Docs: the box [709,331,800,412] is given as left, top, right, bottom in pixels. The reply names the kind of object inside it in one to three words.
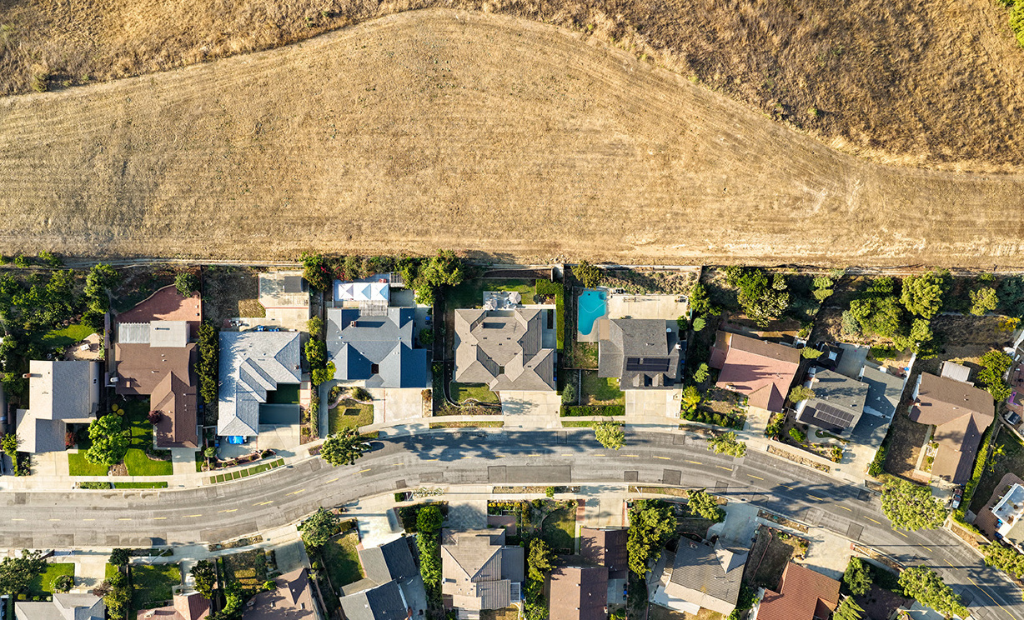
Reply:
house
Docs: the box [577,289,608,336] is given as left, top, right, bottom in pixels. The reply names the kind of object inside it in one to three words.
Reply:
swimming pool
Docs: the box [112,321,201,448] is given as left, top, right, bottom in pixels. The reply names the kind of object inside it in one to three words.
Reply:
house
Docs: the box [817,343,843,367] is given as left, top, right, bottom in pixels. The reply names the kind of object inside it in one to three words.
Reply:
gazebo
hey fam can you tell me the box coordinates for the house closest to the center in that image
[455,309,554,391]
